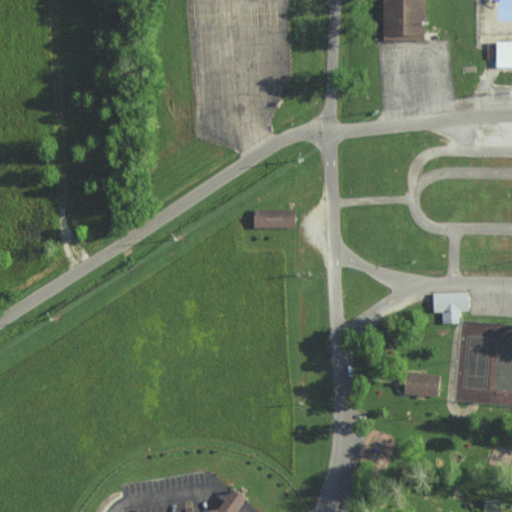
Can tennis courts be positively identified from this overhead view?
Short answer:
Yes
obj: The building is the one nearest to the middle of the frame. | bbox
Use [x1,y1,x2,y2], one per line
[254,210,296,230]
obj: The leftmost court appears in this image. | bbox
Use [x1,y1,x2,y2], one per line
[456,322,492,404]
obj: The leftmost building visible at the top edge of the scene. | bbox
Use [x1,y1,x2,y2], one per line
[384,0,428,43]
